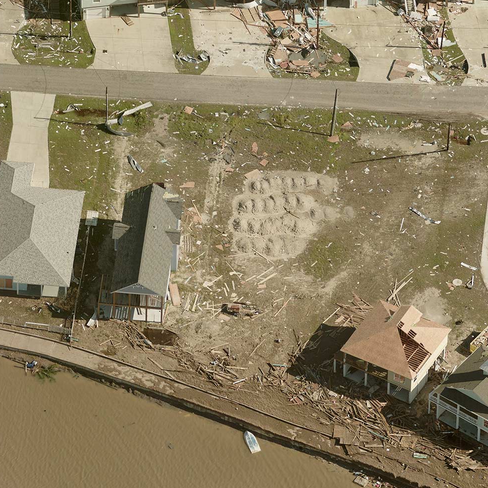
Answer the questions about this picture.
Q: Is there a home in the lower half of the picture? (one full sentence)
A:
Yes, a home can be seen in the lower half of the picture.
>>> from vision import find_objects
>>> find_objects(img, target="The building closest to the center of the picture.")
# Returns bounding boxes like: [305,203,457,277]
[99,178,184,325]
